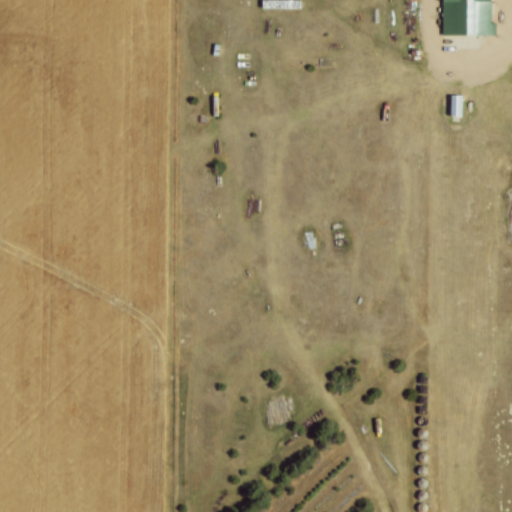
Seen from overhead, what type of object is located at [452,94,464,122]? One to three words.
shed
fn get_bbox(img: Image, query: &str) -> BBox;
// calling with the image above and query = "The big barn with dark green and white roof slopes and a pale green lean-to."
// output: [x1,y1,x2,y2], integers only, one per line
[444,0,498,36]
